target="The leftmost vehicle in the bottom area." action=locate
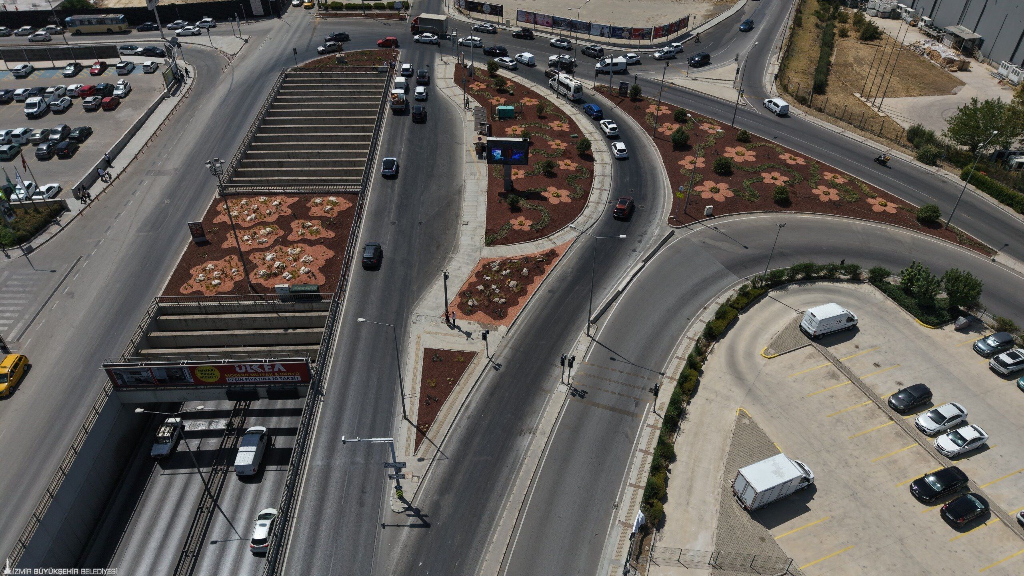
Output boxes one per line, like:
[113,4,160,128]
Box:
[0,351,34,397]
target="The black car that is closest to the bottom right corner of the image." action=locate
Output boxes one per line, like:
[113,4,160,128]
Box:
[935,491,993,529]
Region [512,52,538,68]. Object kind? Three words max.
vehicle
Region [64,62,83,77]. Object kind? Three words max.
car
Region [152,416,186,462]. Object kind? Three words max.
truck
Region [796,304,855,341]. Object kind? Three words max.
van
